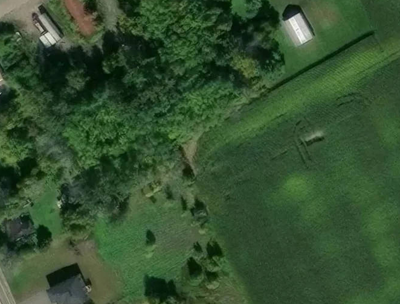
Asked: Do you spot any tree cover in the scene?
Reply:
Yes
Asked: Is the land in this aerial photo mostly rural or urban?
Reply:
rural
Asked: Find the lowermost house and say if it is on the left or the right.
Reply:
left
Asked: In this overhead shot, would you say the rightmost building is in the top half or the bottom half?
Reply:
top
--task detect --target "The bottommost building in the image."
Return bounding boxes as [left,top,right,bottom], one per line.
[46,272,91,304]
